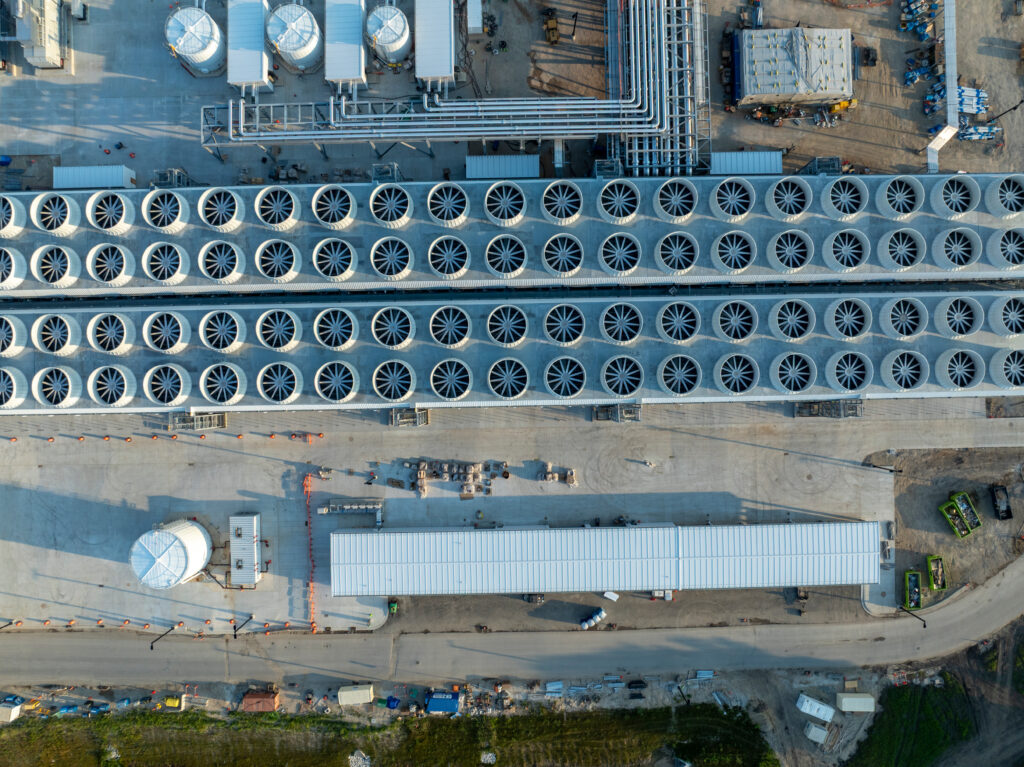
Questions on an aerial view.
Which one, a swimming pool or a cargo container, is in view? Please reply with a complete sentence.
The one in the frame is a cargo container.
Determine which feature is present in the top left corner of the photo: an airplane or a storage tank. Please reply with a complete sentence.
The one visible in the top left corner of the photo is a storage tank.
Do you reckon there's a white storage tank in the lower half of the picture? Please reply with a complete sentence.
Yes, looking in the lower half of the picture, one can make out a white storage tank.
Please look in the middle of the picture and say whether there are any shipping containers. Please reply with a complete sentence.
No, I can find no shipping container in the middle of the picture.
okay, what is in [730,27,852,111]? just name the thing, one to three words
building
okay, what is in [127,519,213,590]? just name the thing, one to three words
storage tank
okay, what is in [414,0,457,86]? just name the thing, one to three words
shed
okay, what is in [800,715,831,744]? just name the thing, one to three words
shipping container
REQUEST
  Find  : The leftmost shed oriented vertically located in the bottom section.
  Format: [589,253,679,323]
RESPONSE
[230,513,261,585]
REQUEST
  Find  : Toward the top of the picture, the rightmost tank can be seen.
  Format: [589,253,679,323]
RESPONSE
[364,1,415,67]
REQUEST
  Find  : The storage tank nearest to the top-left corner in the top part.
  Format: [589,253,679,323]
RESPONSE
[163,1,228,80]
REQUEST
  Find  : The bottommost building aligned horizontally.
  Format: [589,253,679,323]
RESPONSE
[330,509,881,597]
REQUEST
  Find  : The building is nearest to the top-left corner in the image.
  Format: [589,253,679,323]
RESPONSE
[11,0,66,68]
